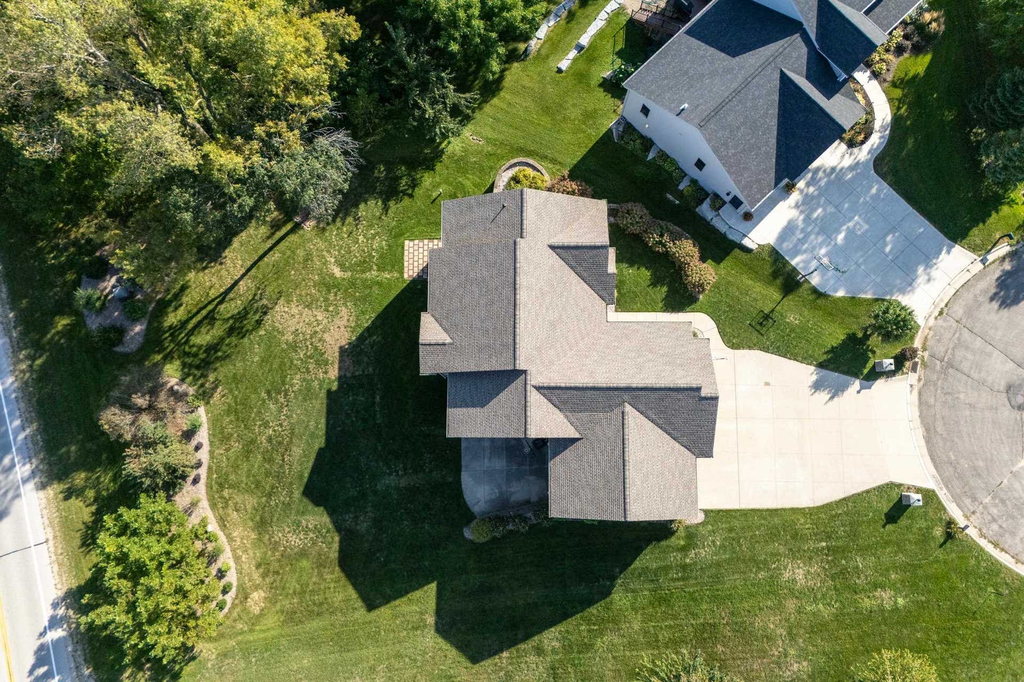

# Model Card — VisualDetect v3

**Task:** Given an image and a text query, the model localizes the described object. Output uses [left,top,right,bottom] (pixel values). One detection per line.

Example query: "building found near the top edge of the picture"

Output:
[622,0,926,218]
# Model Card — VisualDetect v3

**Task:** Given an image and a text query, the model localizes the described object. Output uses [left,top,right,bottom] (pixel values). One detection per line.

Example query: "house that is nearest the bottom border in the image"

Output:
[417,187,719,520]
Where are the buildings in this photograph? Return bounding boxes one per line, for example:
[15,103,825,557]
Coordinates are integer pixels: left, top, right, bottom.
[417,187,719,520]
[622,0,926,218]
